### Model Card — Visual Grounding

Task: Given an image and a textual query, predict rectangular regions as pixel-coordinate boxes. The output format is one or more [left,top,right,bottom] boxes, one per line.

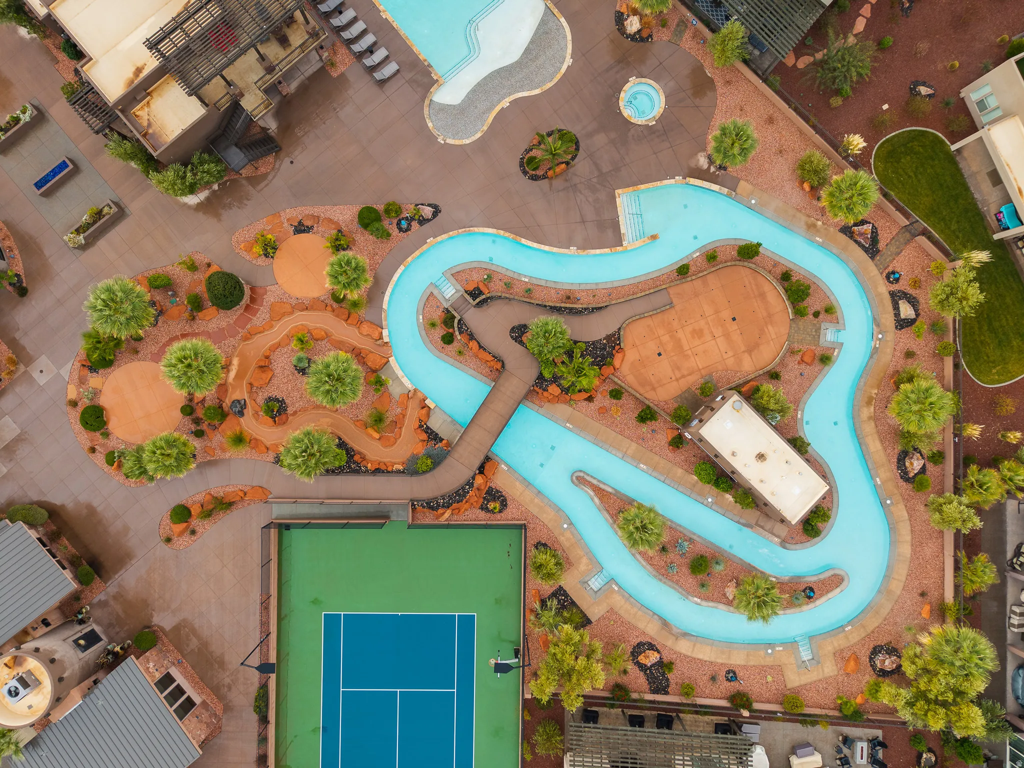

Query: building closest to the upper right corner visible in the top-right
[960,52,1024,145]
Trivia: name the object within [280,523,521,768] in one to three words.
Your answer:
tennis court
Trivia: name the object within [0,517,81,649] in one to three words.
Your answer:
building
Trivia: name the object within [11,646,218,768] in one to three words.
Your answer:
building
